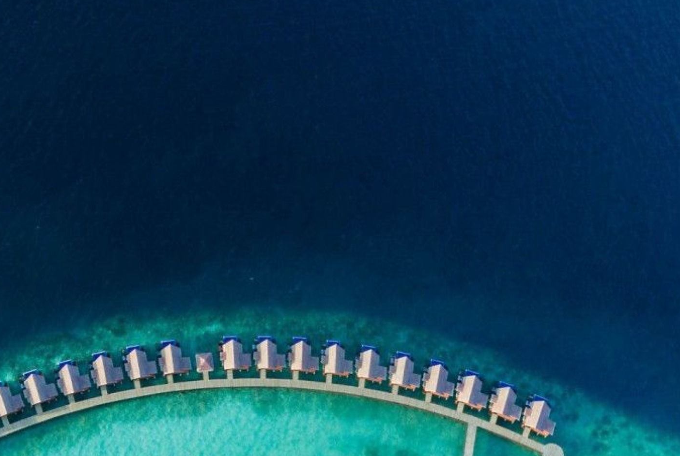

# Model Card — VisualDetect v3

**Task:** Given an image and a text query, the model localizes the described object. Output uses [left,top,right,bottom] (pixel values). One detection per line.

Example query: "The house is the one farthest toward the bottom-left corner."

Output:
[0,379,27,416]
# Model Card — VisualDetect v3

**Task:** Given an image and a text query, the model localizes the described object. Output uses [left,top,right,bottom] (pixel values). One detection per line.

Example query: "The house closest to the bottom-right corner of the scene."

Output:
[519,395,553,434]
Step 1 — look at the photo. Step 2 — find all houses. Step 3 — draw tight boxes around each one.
[156,340,192,374]
[453,371,486,408]
[56,359,91,395]
[354,345,386,382]
[89,351,125,385]
[285,338,318,372]
[486,380,520,419]
[122,344,157,379]
[0,379,27,416]
[21,369,59,404]
[319,341,352,376]
[420,359,453,397]
[218,337,251,371]
[387,353,420,389]
[519,395,553,434]
[251,337,285,371]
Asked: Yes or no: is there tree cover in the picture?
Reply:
No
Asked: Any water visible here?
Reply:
Yes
